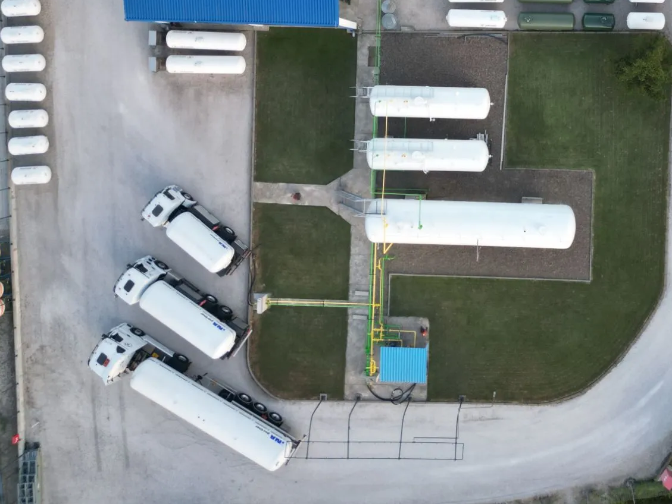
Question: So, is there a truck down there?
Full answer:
Yes, a truck can be made out from above.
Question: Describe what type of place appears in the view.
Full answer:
The picture captures an industrial area.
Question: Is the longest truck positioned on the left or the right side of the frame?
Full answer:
The longest truck is on the left side of the image.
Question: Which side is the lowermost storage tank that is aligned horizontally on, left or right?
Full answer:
The lowermost storage tank that is aligned horizontally sits on the right side.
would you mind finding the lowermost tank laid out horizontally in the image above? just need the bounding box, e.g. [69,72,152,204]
[364,187,576,253]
